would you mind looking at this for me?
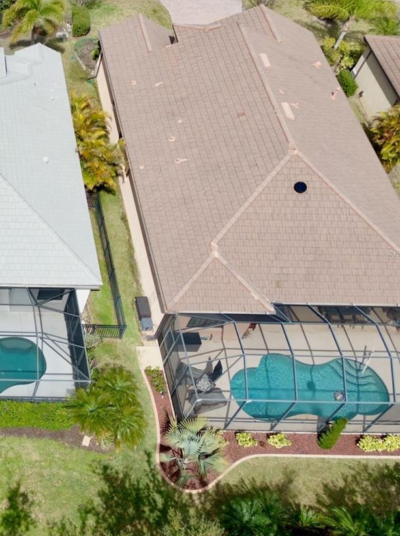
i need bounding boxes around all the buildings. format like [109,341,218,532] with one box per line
[353,33,400,135]
[0,42,103,311]
[86,1,400,335]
